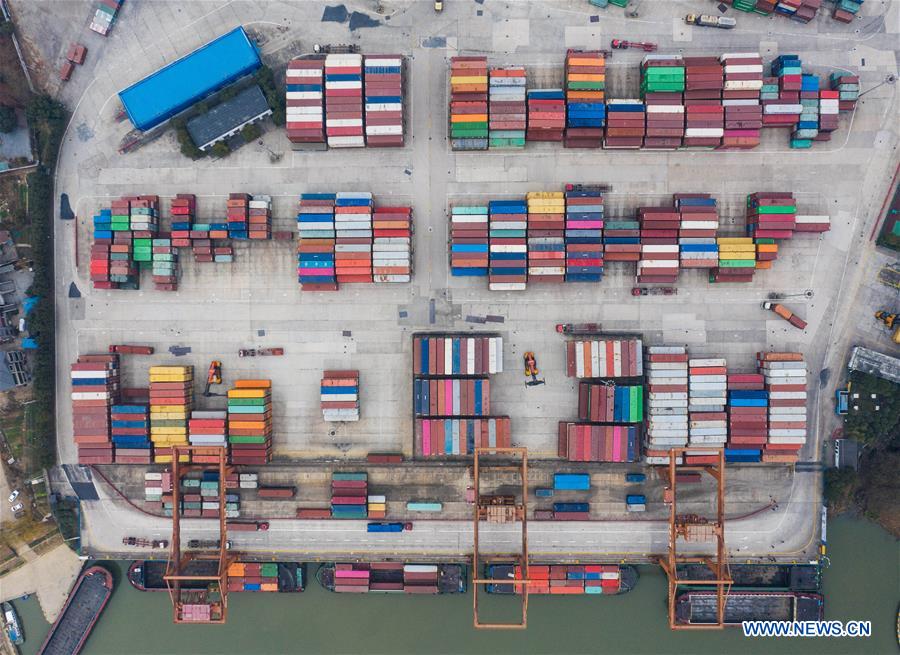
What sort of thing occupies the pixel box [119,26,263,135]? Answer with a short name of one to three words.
building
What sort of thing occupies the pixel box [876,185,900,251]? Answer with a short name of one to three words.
sports court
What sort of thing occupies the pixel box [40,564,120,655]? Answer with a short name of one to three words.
ship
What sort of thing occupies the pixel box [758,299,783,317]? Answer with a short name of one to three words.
vehicle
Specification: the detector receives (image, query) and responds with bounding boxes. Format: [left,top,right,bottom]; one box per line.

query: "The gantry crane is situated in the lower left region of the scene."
[163,448,247,630]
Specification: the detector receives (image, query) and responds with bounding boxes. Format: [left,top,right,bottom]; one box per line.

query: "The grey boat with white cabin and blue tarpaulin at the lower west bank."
[4,605,25,644]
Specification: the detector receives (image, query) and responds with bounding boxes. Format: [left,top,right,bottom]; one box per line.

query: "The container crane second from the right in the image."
[463,448,531,627]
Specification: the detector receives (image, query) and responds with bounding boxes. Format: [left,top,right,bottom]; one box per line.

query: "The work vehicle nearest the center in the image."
[524,352,544,389]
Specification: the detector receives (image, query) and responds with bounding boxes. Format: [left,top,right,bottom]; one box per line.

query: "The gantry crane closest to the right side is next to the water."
[650,448,734,627]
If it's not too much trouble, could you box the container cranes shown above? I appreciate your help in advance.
[650,448,734,627]
[163,448,247,630]
[463,448,531,627]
